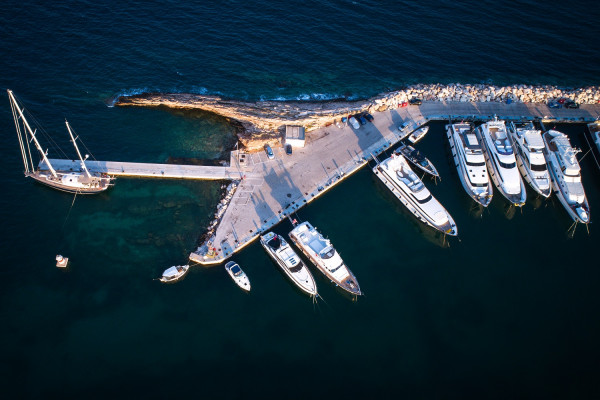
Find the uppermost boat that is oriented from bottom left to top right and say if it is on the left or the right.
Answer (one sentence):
You can find the uppermost boat that is oriented from bottom left to top right on the right side of the picture.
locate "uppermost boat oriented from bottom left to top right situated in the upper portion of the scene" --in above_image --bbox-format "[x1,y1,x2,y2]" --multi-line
[408,123,428,145]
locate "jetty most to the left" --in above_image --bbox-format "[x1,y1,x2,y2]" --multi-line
[38,159,230,183]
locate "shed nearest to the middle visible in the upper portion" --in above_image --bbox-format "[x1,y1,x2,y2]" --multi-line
[284,125,306,147]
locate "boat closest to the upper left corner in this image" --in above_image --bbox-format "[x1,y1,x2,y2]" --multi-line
[4,89,115,210]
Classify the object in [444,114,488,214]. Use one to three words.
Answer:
boat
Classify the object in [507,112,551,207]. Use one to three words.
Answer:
boat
